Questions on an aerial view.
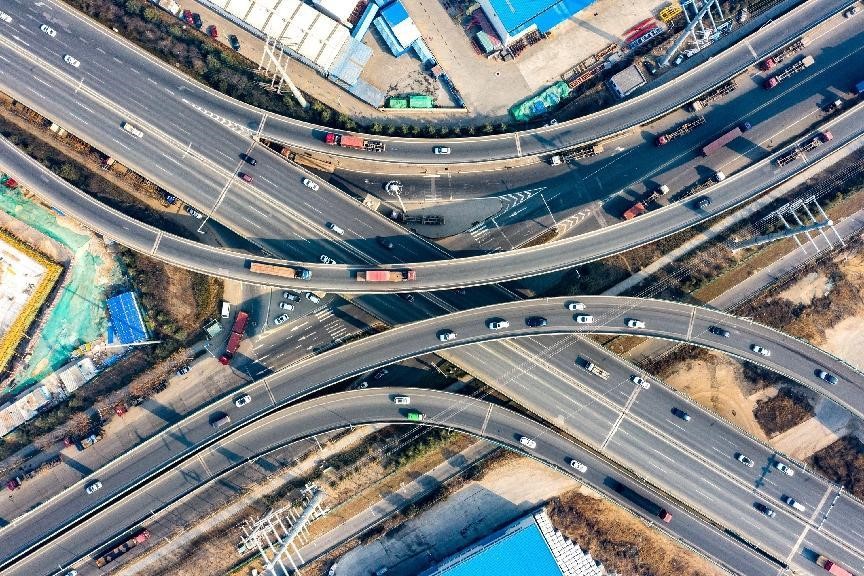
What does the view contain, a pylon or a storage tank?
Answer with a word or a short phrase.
pylon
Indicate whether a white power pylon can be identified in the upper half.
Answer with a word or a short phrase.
Yes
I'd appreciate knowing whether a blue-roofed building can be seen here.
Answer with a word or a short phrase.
Yes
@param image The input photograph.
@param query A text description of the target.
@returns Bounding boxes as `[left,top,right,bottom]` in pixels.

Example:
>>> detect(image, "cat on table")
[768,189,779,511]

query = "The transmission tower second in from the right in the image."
[660,0,742,67]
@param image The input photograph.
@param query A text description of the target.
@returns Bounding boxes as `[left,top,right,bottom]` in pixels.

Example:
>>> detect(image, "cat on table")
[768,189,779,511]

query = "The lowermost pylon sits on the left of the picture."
[256,487,328,576]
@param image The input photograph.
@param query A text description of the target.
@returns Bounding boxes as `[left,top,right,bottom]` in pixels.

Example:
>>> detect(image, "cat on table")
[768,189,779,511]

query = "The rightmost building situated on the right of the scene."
[607,64,645,101]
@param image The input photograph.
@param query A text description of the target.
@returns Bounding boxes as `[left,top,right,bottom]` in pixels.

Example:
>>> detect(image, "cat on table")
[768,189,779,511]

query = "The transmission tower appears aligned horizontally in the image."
[727,197,845,256]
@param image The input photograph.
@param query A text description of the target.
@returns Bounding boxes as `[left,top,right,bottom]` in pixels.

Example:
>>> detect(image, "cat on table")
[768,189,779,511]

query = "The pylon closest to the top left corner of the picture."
[263,31,307,109]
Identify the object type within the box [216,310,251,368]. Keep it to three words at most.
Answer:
truck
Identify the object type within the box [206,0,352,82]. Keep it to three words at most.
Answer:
shed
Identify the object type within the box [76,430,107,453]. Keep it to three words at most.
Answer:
truck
